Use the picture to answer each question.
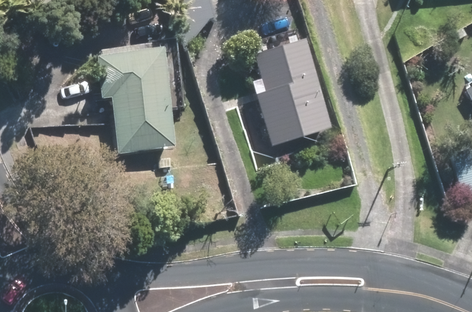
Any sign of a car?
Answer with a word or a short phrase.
Yes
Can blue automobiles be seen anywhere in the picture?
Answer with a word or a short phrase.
Yes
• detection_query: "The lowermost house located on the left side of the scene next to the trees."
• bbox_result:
[98,45,175,154]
